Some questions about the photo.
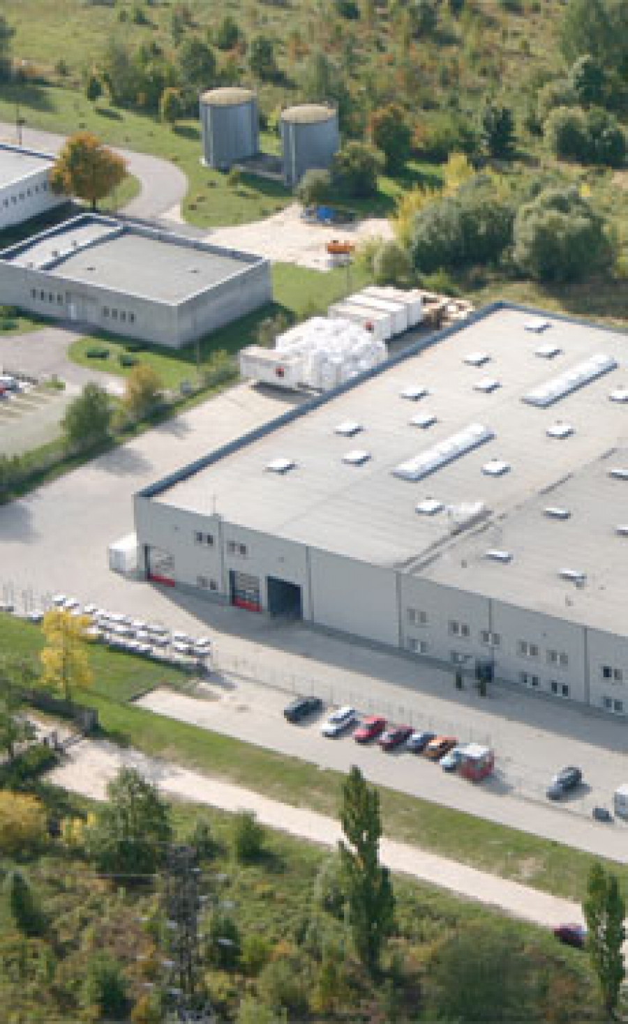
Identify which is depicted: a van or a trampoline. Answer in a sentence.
There is a van in the scene.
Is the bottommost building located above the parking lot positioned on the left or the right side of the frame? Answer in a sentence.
The bottommost building located above the parking lot appears in the left half of the scene.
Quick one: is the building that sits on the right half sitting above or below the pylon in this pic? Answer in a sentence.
You can see the building that sits on the right half above the pylon in the frame.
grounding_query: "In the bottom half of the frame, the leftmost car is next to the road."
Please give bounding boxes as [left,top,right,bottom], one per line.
[278,688,327,720]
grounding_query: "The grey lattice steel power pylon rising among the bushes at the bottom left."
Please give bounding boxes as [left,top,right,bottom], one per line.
[128,842,250,1024]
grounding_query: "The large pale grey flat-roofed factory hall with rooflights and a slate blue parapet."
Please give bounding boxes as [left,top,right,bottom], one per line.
[130,298,628,722]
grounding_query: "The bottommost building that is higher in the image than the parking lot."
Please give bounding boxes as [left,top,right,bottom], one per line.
[0,215,272,347]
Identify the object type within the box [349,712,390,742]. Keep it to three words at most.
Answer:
car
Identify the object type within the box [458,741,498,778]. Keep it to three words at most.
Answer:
van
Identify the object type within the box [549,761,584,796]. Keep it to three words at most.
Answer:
car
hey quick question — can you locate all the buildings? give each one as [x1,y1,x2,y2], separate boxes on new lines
[0,140,68,229]
[0,215,272,347]
[130,298,628,722]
